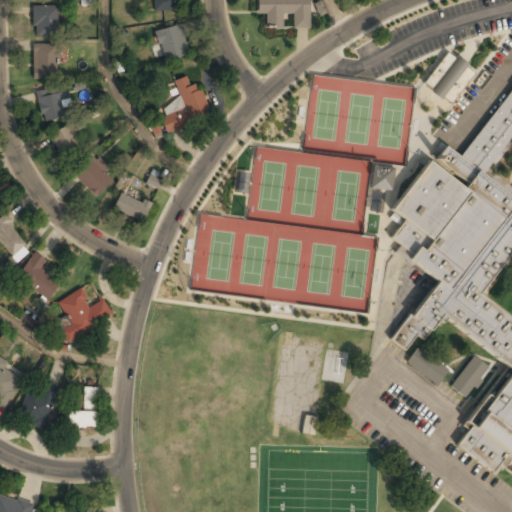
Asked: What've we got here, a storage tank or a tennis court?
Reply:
tennis court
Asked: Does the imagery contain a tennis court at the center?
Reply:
Yes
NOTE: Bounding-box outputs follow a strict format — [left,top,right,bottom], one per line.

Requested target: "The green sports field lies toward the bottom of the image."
[258,446,378,512]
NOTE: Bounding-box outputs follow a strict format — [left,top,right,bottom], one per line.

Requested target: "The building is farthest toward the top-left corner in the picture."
[34,5,58,36]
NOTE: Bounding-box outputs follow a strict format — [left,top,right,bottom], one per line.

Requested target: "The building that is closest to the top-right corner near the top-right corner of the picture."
[424,52,476,104]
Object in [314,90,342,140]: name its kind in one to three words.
tennis court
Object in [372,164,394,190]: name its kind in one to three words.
building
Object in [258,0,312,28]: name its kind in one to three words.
house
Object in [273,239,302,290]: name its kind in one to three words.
tennis court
